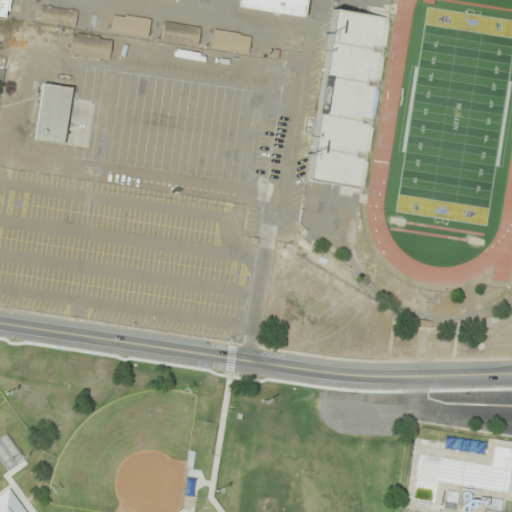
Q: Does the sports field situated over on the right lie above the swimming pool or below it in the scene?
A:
above it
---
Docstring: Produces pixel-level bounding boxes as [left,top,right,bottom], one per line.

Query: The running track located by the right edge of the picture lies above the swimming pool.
[367,0,512,291]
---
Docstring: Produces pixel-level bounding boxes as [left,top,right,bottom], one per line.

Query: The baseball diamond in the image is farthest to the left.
[51,390,196,512]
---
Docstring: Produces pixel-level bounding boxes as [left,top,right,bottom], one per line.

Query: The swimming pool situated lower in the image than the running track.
[414,446,512,506]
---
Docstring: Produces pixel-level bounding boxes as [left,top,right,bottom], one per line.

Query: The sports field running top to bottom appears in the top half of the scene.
[384,0,512,266]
